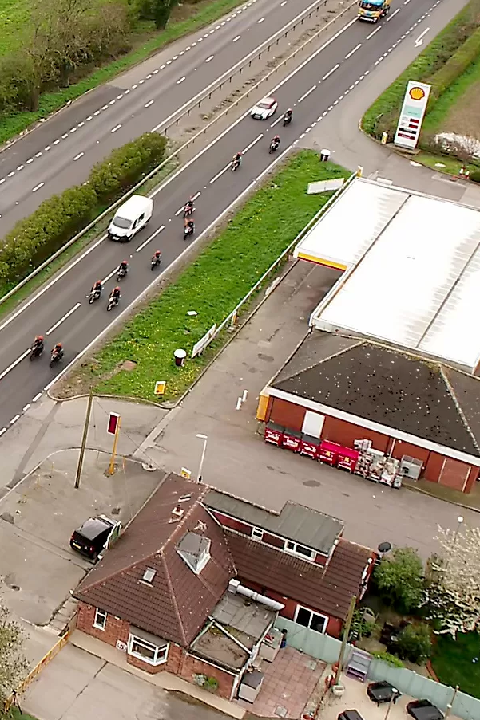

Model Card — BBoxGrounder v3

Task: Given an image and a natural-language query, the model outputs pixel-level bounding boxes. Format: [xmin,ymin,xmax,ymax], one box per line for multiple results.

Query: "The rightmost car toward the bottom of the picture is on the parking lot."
[76,514,119,560]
